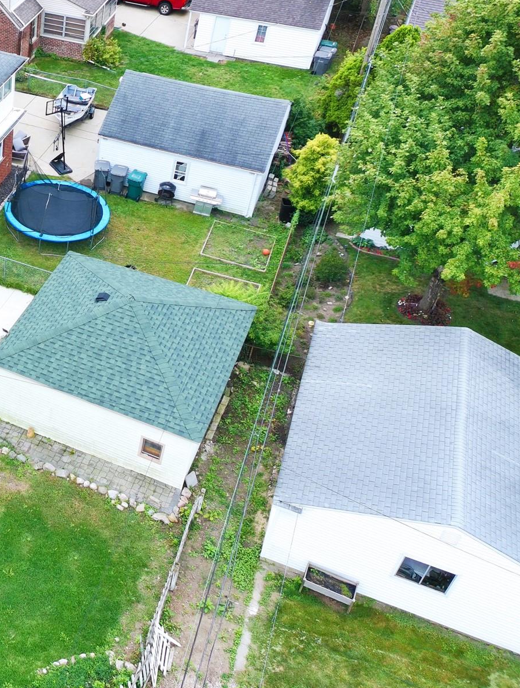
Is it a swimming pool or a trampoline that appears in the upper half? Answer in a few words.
trampoline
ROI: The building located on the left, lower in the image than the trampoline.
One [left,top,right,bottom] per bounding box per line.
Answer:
[0,247,263,488]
